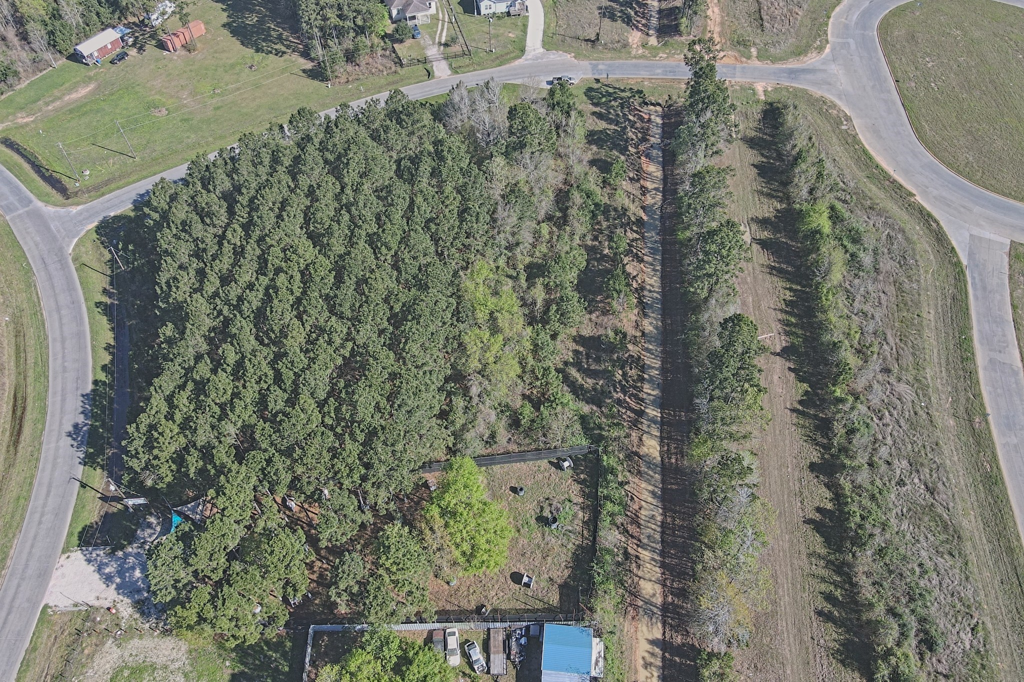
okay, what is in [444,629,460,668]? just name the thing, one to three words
car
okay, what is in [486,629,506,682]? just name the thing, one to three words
trailer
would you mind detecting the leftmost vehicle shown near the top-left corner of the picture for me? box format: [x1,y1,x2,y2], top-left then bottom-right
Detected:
[109,50,129,64]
